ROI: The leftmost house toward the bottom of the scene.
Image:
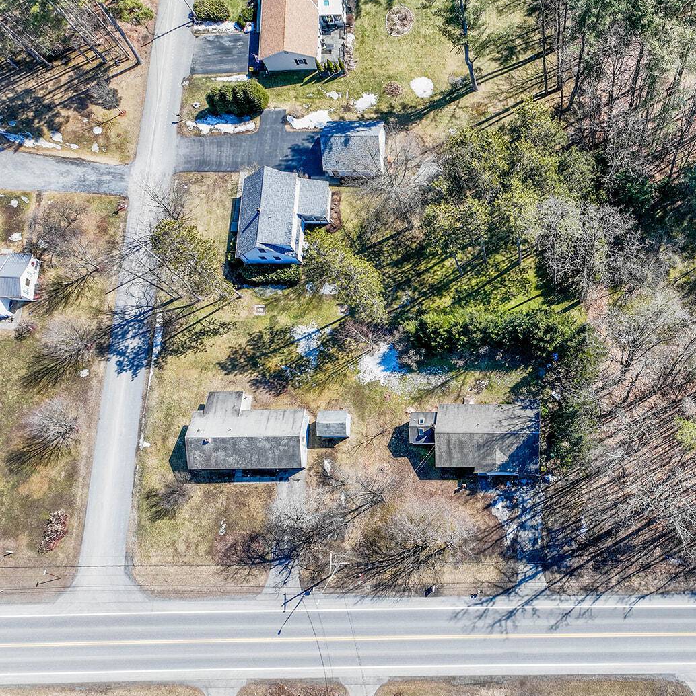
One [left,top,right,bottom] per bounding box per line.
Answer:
[184,392,310,471]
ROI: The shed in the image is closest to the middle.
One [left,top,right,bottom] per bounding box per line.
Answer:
[314,410,350,438]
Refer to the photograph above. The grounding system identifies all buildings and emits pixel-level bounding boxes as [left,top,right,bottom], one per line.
[237,164,336,265]
[184,392,310,471]
[314,410,350,438]
[408,405,539,475]
[259,0,346,69]
[320,121,385,178]
[0,252,39,310]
